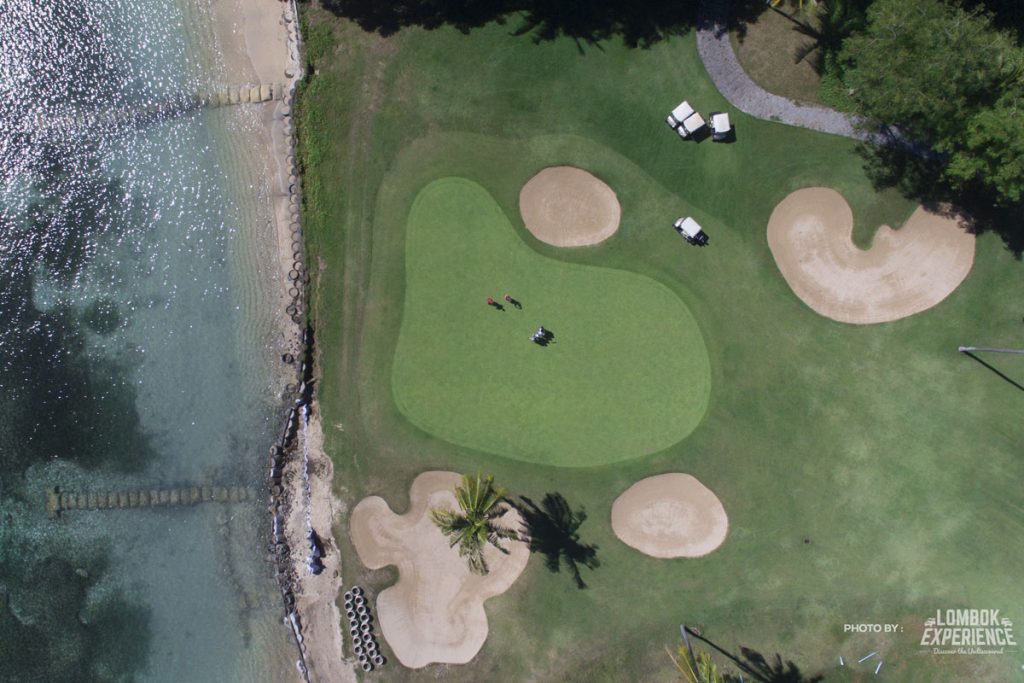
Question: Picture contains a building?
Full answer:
No, no building is visible in the scene.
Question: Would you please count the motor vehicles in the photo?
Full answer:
Altogether the scene contains 4 motor vehicles.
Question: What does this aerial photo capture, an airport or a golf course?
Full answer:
The picture captures a golf course.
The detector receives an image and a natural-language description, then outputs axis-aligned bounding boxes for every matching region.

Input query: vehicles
[664,101,694,131]
[675,112,705,142]
[672,216,704,243]
[707,113,730,143]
